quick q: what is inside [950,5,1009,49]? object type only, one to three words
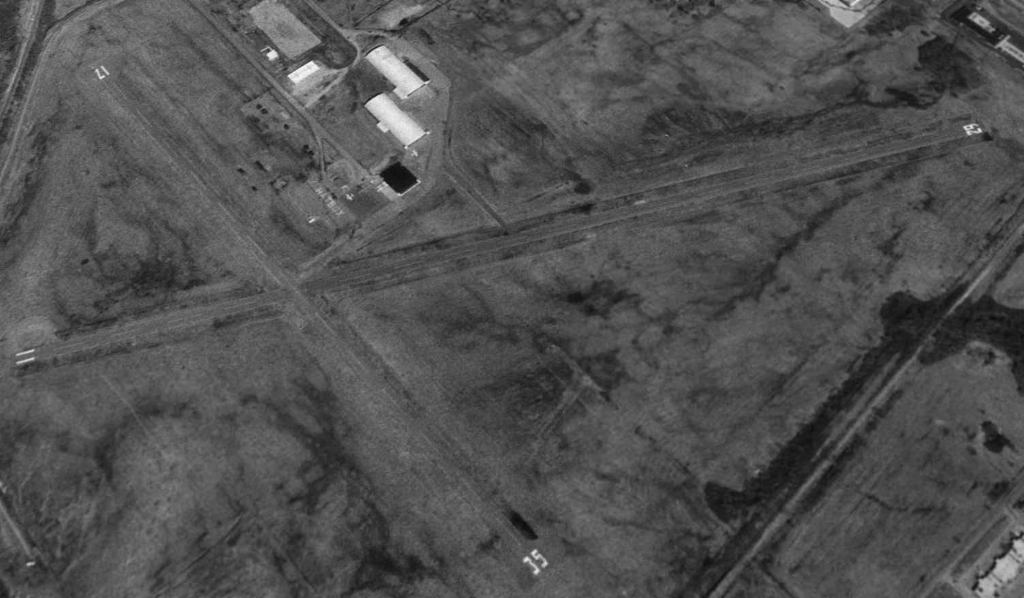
building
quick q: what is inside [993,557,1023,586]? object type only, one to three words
building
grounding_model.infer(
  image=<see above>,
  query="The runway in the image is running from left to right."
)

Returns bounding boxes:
[10,119,1001,373]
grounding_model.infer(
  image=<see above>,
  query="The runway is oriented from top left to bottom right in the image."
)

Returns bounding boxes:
[76,49,584,598]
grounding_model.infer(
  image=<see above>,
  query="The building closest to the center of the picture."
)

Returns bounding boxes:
[380,161,422,199]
